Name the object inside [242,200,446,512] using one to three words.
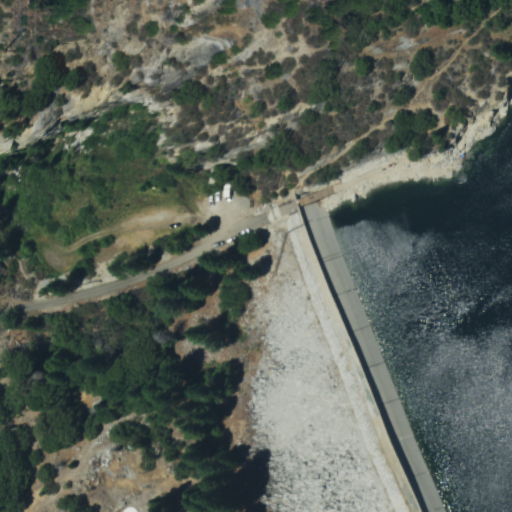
dam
